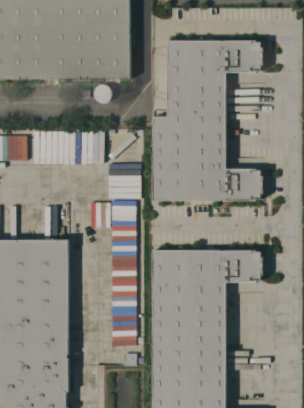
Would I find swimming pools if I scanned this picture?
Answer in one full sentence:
No, this view has no swimming pool in it.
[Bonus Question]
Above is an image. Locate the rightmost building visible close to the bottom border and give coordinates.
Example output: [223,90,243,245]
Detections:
[152,248,262,408]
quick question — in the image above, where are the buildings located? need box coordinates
[0,238,71,408]
[125,352,138,366]
[152,40,262,200]
[0,0,134,80]
[152,248,262,408]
